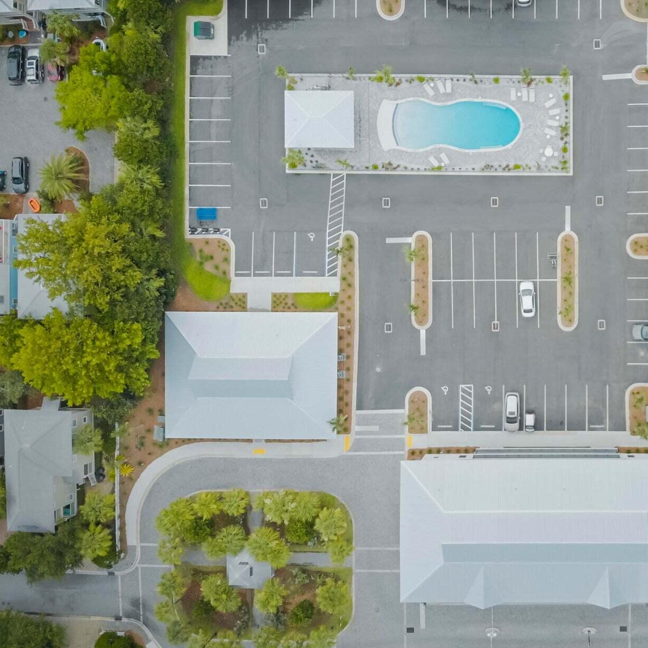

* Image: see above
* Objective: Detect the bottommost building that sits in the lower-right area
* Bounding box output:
[399,444,648,609]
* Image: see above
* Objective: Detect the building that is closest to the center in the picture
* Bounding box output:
[164,311,338,440]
